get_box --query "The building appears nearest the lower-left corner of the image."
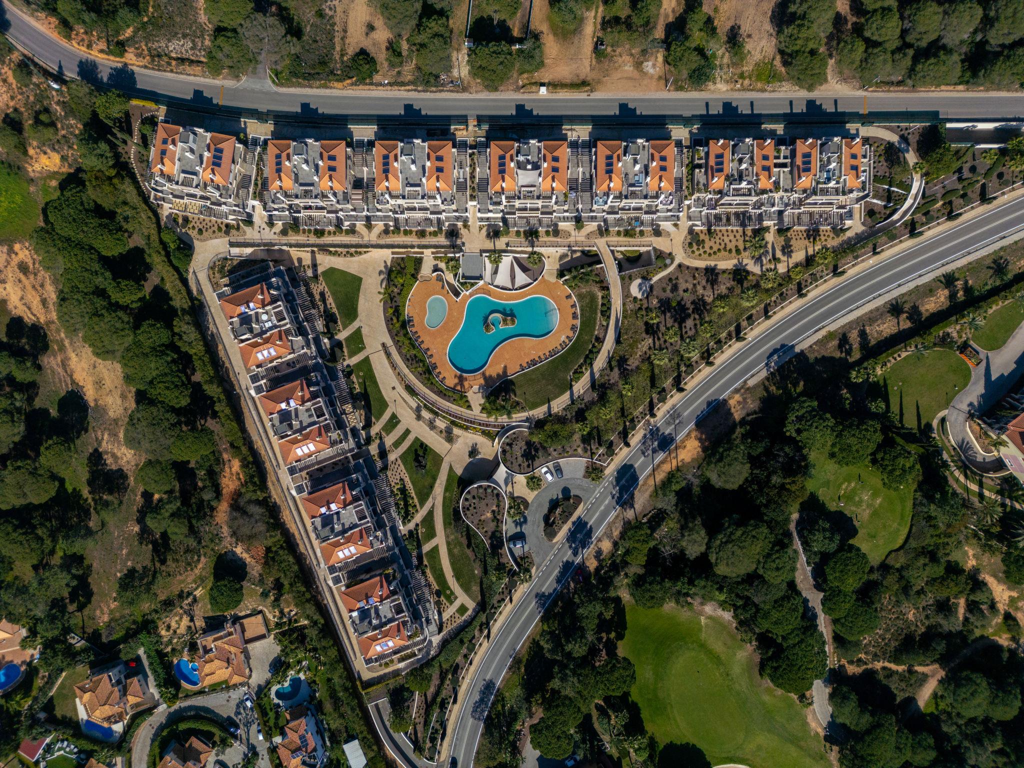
[18,732,54,761]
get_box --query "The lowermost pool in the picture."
[84,718,114,739]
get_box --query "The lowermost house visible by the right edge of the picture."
[986,407,1024,483]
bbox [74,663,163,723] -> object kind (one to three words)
house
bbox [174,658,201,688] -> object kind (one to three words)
swimming pool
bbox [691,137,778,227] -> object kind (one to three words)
building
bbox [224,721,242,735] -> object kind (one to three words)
car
